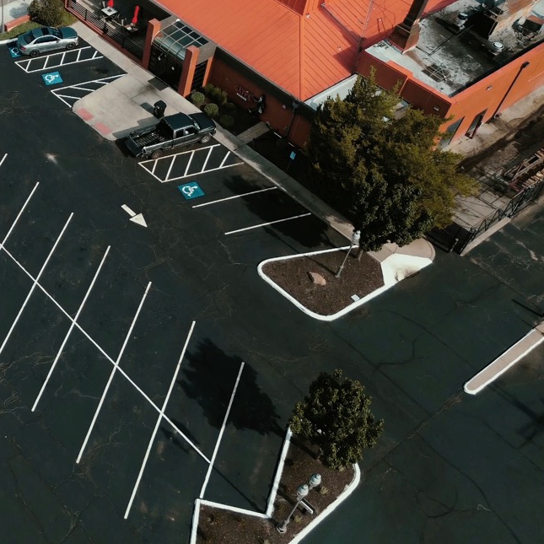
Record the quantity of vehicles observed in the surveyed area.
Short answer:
2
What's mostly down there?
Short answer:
paved ground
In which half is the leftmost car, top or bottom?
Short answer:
top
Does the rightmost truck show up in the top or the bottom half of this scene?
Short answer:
top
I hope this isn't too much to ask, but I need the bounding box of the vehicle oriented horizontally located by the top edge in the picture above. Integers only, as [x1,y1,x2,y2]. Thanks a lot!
[14,24,82,58]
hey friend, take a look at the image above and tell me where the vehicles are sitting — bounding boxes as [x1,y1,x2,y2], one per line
[123,113,220,160]
[14,24,82,58]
